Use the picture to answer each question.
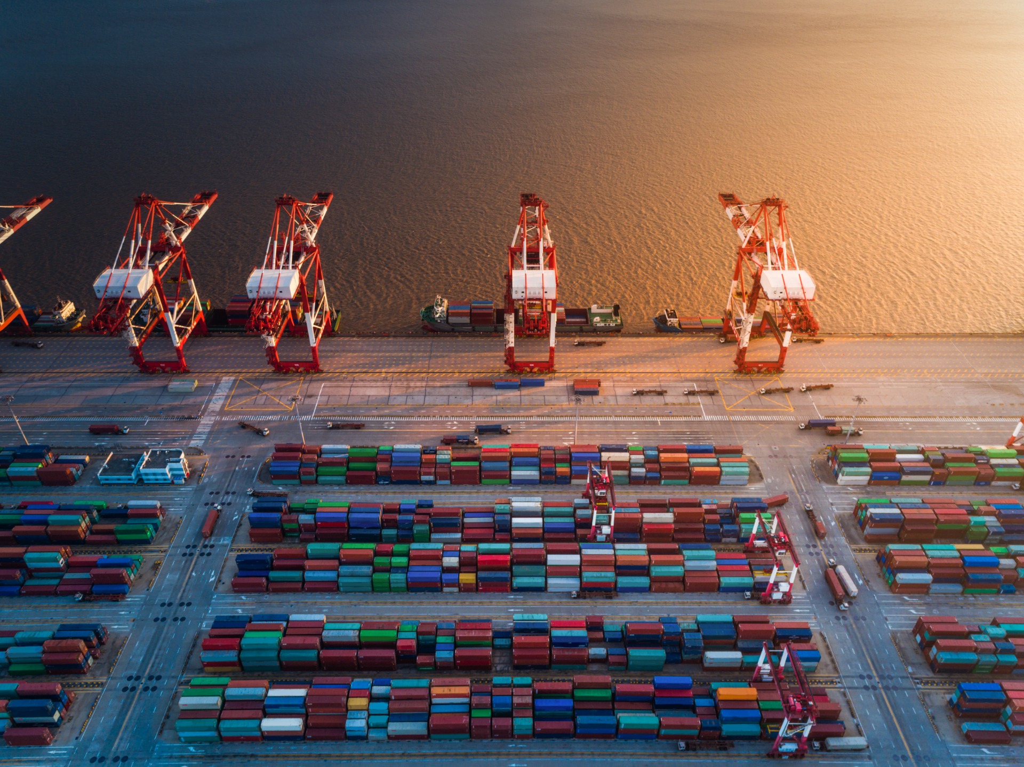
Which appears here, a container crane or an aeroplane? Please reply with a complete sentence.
The image shows a container crane.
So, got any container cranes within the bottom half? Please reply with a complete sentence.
Yes, looking within the bottom half, one can make out a container crane.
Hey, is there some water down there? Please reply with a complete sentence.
Yes, some water is visible.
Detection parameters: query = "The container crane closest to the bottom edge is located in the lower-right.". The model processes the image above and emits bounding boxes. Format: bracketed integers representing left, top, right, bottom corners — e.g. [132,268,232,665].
[748,639,823,763]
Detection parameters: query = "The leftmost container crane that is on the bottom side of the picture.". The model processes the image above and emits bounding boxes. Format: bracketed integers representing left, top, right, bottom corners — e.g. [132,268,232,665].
[584,457,620,546]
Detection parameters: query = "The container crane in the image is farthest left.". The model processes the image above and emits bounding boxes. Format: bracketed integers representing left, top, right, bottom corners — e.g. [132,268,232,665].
[0,191,53,337]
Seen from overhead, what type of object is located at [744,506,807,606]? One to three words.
container crane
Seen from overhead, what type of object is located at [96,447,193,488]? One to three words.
building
